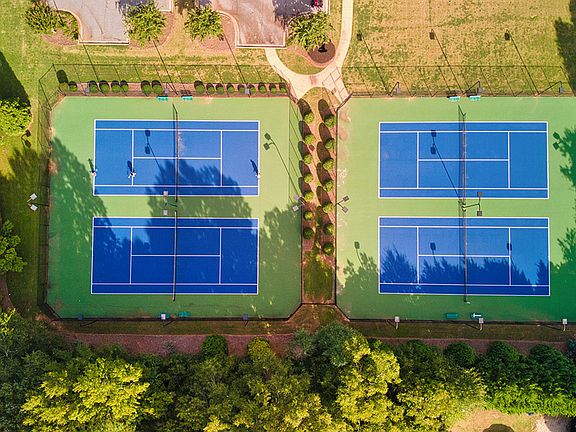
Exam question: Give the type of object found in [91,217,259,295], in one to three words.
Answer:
tennis court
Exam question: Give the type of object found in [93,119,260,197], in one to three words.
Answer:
tennis court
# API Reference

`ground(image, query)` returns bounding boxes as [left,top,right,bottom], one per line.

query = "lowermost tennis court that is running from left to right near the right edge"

[379,216,550,296]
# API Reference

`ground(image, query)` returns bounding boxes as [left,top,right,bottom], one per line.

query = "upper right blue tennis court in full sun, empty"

[379,121,549,199]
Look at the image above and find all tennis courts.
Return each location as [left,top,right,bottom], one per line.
[379,121,549,199]
[91,217,259,295]
[379,216,550,296]
[93,119,260,197]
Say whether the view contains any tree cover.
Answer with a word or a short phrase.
Yes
